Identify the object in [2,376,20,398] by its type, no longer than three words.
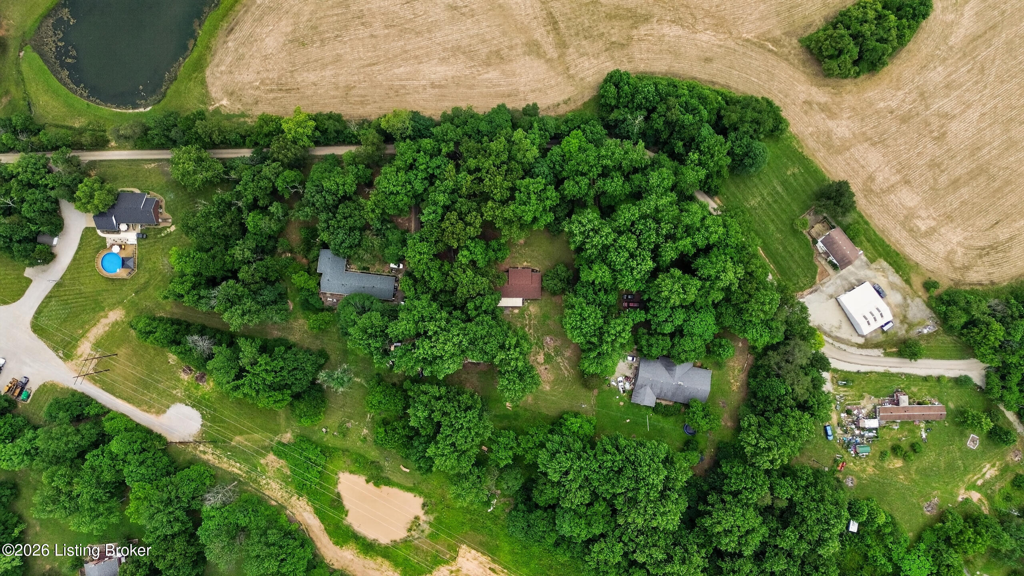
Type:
work vehicle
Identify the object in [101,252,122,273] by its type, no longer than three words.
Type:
swimming pool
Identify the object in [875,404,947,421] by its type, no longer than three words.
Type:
house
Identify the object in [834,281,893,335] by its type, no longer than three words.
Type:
barn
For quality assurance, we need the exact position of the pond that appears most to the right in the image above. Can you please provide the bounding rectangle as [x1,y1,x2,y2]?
[337,470,423,542]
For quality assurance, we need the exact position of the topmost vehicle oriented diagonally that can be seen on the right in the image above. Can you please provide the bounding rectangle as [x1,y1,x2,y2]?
[872,282,887,299]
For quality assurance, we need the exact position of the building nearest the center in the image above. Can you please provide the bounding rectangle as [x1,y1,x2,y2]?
[499,269,541,299]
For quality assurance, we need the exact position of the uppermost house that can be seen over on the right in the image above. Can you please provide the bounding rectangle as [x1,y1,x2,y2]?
[817,227,864,270]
